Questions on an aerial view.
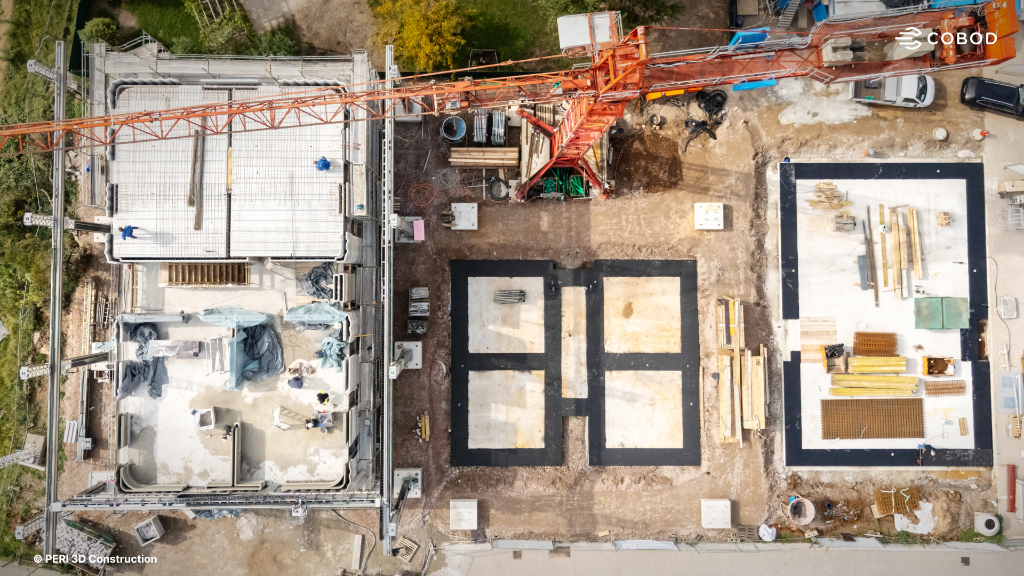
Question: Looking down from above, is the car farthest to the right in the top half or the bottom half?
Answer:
top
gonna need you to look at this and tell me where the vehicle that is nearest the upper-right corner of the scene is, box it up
[960,75,1024,125]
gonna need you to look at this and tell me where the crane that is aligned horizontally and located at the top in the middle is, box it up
[0,0,1002,203]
